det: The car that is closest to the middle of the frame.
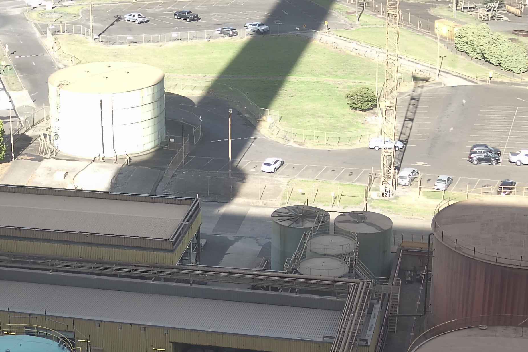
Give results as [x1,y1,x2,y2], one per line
[262,158,283,172]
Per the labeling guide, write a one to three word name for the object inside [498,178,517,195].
car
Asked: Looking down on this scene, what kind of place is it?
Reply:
industrial area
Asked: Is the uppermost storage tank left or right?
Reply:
left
